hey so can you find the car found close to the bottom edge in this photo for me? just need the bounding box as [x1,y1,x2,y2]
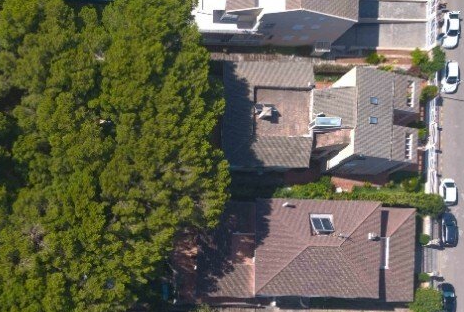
[438,283,459,312]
